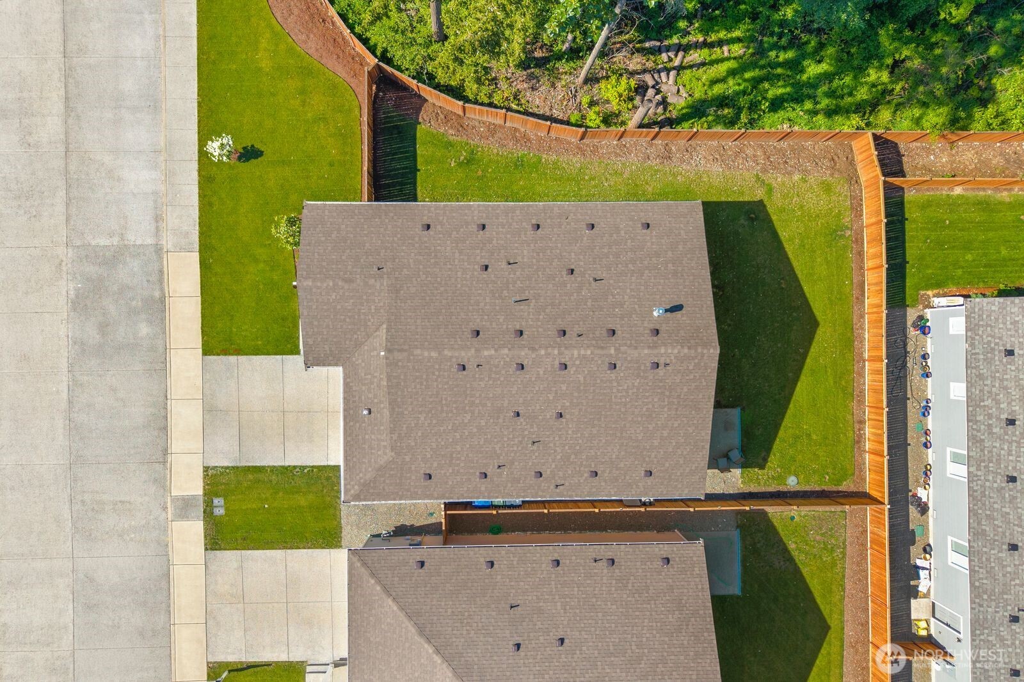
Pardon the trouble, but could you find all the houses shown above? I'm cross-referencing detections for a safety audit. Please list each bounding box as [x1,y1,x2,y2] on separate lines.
[929,295,1024,682]
[291,198,721,503]
[311,530,718,682]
